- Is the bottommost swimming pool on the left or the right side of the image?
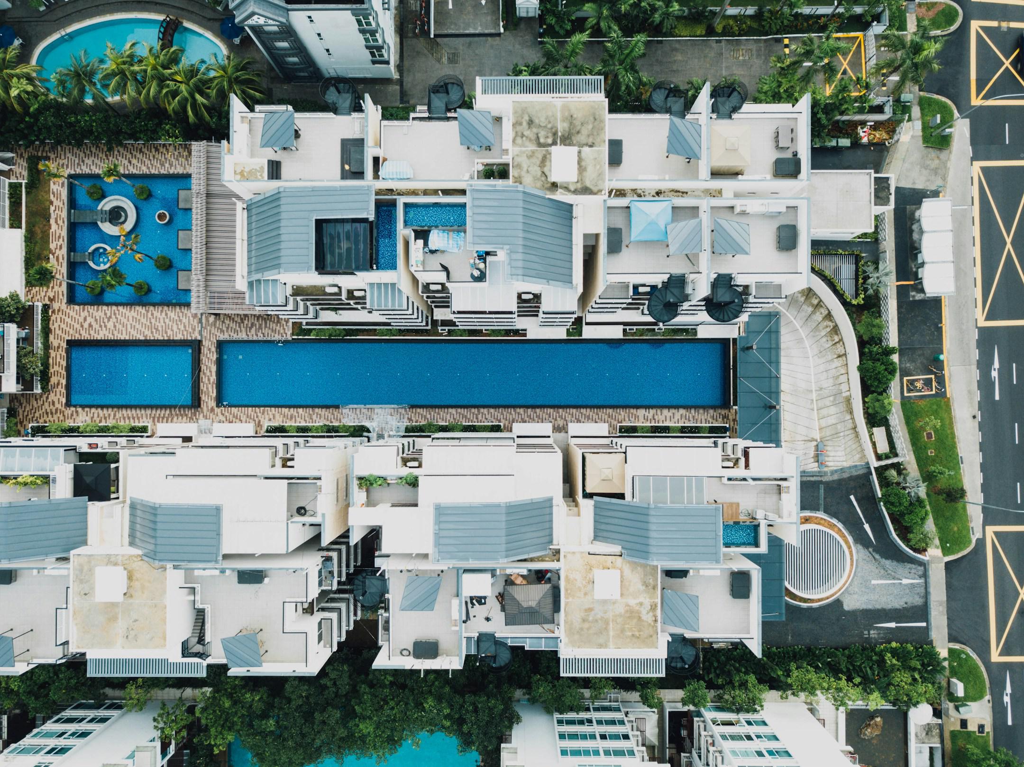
left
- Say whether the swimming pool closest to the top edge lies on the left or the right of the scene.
left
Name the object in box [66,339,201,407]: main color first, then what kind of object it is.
blue swimming pool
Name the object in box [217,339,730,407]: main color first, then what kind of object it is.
blue swimming pool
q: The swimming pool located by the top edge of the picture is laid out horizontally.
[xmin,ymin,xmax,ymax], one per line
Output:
[31,13,229,98]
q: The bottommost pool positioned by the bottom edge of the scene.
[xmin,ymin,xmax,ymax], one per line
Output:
[223,729,485,767]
